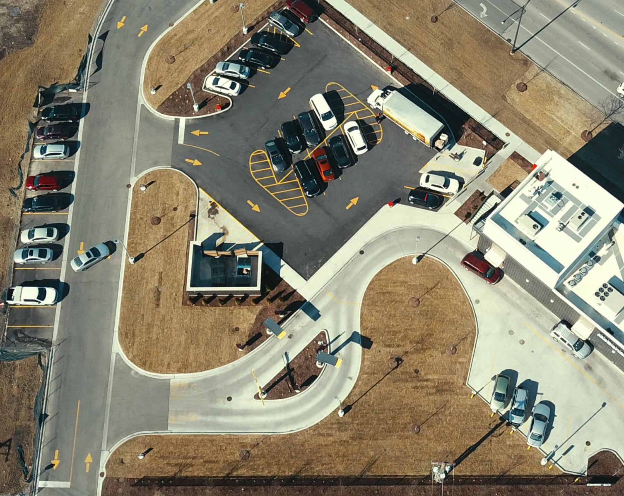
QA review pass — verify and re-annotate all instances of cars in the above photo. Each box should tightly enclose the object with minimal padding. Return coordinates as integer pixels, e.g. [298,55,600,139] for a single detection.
[292,160,318,196]
[310,93,336,130]
[206,79,240,98]
[14,247,54,266]
[420,175,458,194]
[491,375,511,411]
[26,175,61,192]
[267,11,298,37]
[509,388,530,425]
[460,251,502,284]
[313,149,335,182]
[216,63,251,83]
[408,191,442,210]
[298,113,320,147]
[41,105,79,124]
[265,141,286,173]
[37,125,70,142]
[528,404,549,445]
[344,121,369,156]
[616,82,624,98]
[34,144,70,161]
[24,195,62,213]
[328,135,353,168]
[552,322,592,358]
[240,49,278,72]
[280,121,302,154]
[70,242,110,274]
[254,32,291,56]
[21,226,60,245]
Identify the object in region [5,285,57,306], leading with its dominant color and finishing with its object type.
white vehicle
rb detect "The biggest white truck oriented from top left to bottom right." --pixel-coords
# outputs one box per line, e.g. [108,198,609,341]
[366,87,453,156]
